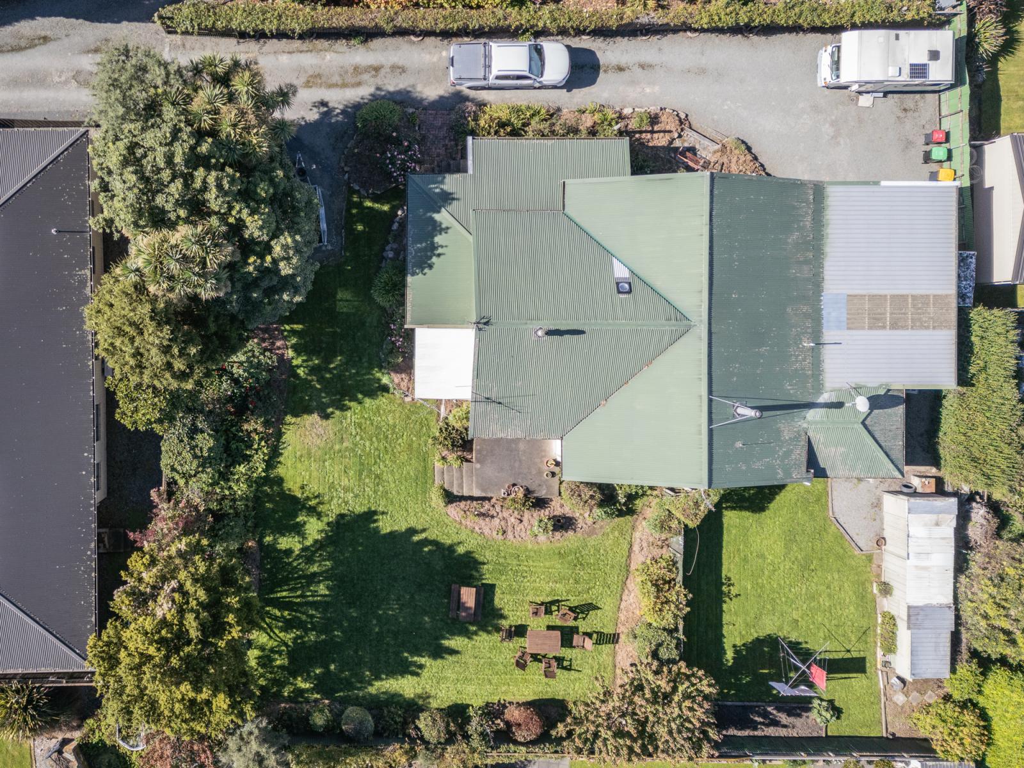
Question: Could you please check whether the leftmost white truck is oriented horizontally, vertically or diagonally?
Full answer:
The leftmost white truck has been laid out horizontally relative to the frame.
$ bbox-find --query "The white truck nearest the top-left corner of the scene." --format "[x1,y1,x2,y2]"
[444,36,569,91]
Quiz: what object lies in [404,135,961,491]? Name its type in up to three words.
house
